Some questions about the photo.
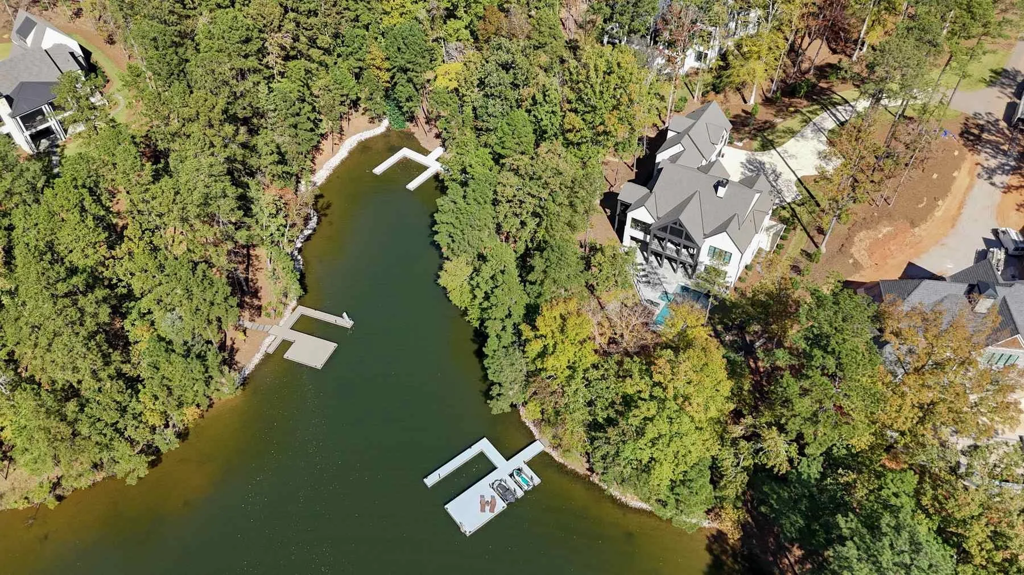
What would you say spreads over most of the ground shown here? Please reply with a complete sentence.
What you mostly see from above here is trees.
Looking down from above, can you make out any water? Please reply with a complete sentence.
Yes, water shows up in the scene.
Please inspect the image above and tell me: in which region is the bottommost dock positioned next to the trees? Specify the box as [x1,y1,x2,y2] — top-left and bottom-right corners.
[422,437,543,537]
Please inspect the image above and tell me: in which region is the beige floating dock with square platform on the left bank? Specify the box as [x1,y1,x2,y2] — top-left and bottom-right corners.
[265,305,355,371]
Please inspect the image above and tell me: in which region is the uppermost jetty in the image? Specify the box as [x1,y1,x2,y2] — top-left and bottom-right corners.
[371,146,443,192]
